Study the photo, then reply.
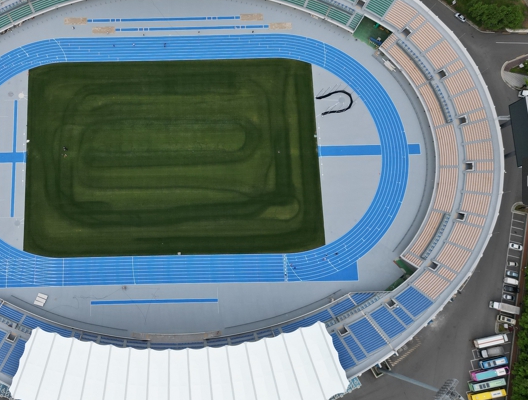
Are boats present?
No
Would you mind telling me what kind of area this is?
sports ground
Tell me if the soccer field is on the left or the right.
left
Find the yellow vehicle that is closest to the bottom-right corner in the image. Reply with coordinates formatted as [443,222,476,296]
[463,387,506,400]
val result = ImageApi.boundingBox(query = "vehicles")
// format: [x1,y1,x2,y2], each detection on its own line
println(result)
[501,277,517,286]
[464,376,506,392]
[508,243,522,251]
[486,301,522,315]
[494,315,517,325]
[468,333,508,349]
[466,365,510,381]
[474,356,508,371]
[477,347,506,359]
[506,261,517,268]
[463,387,506,400]
[503,285,517,293]
[453,14,466,24]
[505,270,519,278]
